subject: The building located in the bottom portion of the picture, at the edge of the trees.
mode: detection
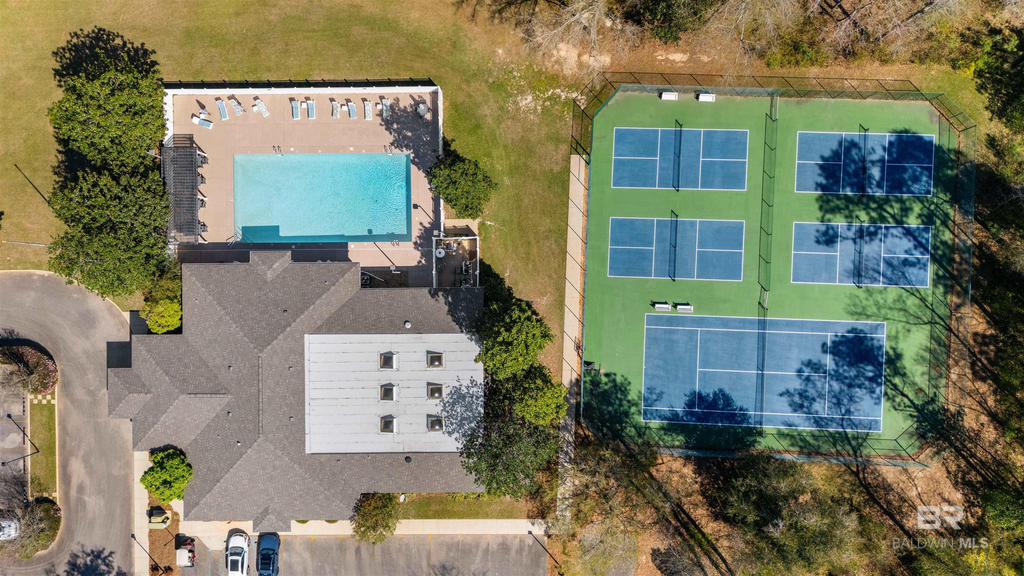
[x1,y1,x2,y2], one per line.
[107,250,485,532]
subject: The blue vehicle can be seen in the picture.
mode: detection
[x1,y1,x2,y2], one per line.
[255,536,279,576]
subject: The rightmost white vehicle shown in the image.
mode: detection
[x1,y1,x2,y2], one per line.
[223,536,248,576]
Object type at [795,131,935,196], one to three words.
sports court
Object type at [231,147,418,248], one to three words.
swimming pool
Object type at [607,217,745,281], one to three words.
sports court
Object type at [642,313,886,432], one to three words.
tennis court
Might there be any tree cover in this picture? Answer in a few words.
Yes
